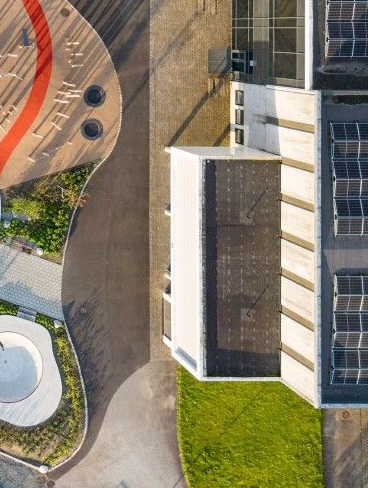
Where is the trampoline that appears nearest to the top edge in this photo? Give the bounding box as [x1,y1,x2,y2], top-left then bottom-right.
[84,85,106,107]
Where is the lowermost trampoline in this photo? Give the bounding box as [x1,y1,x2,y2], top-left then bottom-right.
[81,118,103,140]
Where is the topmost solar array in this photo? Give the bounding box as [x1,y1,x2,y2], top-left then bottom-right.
[326,0,368,58]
